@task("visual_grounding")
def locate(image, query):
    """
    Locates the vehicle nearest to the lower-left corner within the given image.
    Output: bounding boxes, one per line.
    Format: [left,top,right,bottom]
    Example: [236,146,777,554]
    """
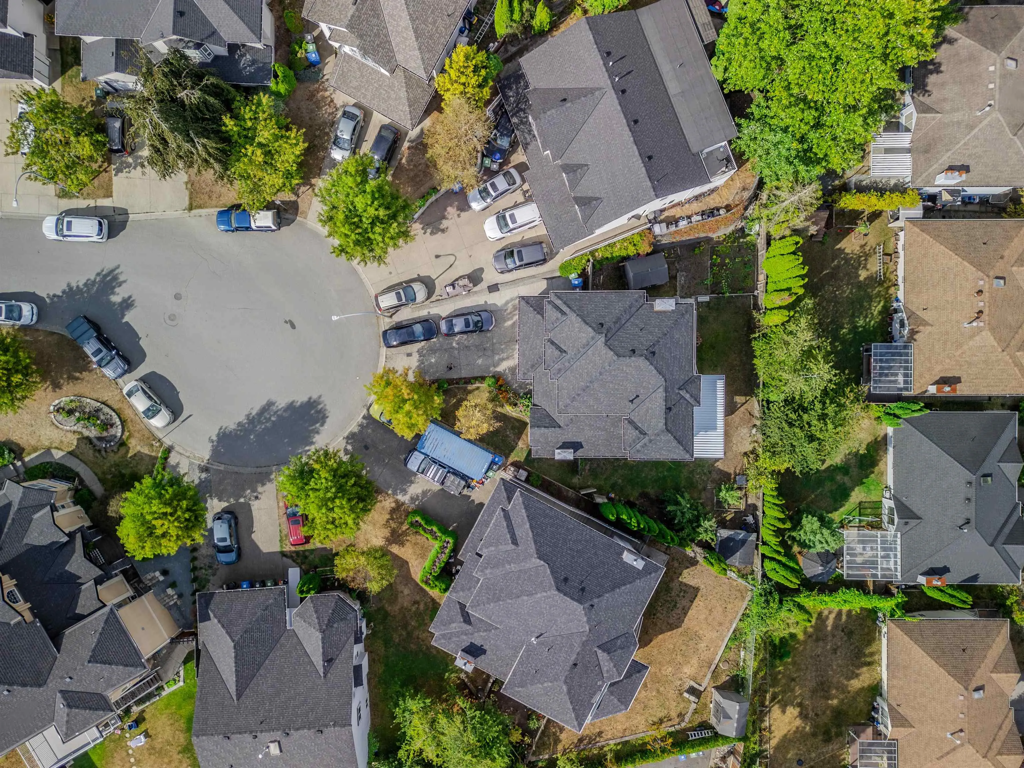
[209,509,241,563]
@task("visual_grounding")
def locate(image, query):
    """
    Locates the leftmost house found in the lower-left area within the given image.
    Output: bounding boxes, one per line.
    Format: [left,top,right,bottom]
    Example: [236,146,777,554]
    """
[0,474,153,756]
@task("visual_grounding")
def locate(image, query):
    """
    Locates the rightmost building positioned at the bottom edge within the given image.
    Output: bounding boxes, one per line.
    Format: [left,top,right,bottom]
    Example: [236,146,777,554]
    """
[874,616,1024,768]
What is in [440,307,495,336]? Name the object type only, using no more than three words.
car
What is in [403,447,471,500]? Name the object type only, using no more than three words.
truck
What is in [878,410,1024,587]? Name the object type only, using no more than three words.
house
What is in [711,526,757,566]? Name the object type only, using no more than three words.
shed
